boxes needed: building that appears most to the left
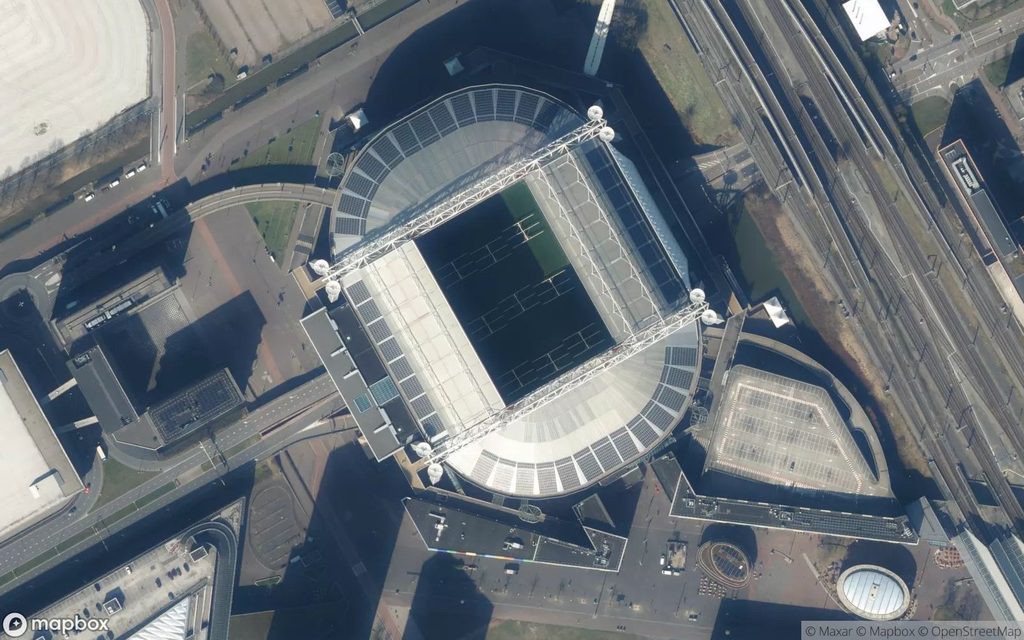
[0,349,84,538]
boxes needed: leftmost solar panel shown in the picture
[155,375,238,438]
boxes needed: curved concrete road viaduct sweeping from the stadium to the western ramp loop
[42,179,337,285]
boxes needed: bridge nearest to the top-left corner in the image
[152,97,186,160]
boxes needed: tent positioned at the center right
[763,297,789,328]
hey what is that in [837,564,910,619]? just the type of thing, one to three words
building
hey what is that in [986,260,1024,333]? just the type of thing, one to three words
building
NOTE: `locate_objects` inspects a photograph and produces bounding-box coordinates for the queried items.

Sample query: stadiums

[309,84,724,502]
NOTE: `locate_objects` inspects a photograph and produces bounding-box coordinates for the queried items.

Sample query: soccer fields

[416,181,615,404]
